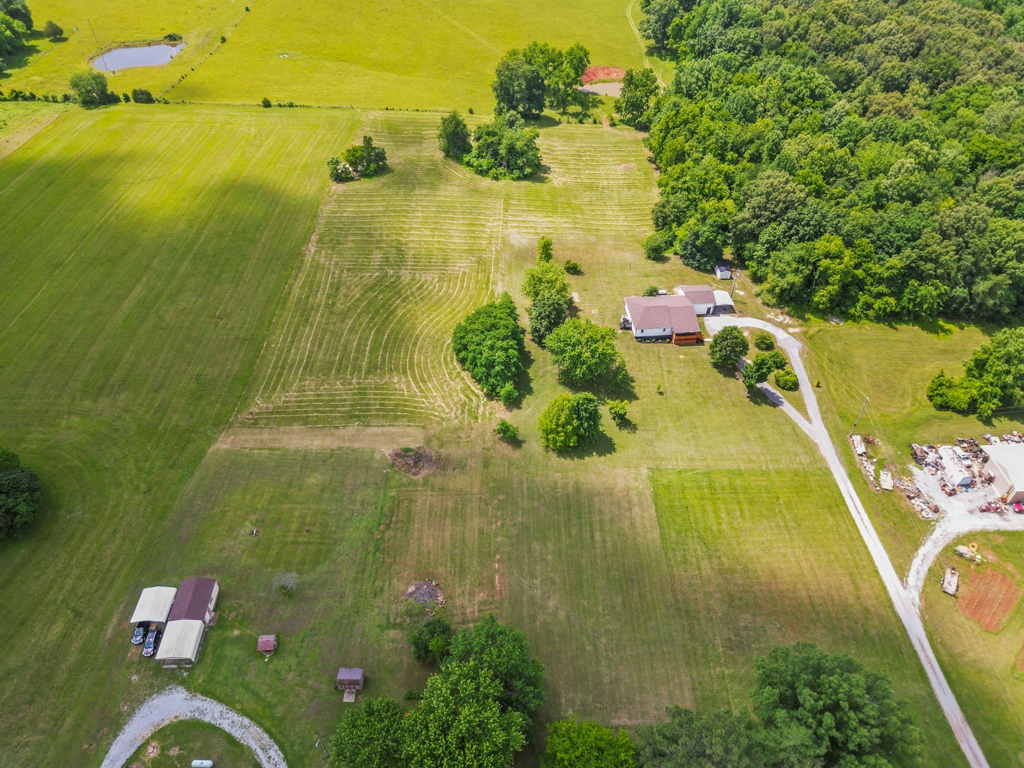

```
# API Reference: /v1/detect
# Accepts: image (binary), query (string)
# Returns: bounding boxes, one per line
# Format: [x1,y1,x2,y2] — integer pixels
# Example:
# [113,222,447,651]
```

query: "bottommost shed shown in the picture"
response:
[336,669,366,690]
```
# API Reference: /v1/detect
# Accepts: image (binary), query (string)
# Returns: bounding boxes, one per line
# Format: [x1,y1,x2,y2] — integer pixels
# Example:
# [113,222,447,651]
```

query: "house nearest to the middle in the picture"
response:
[618,296,703,344]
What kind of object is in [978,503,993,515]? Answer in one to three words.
vehicle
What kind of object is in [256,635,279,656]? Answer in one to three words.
building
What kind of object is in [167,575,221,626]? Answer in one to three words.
building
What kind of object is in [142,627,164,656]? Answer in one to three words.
car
